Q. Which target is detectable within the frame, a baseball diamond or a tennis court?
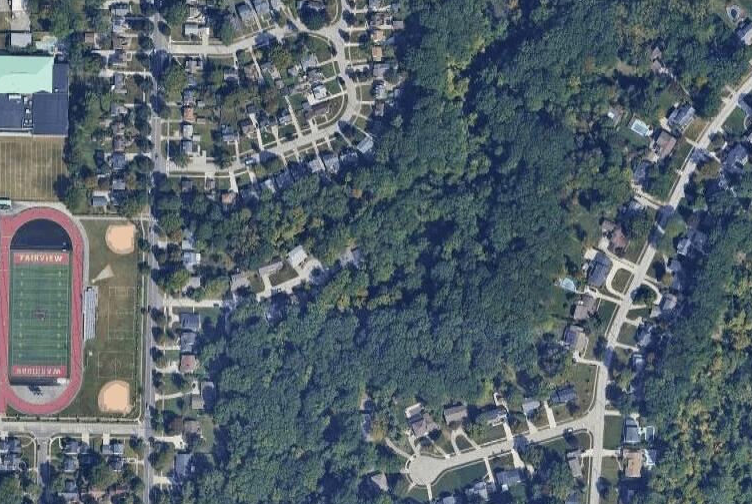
baseball diamond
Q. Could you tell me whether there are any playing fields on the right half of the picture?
No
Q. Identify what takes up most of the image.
trees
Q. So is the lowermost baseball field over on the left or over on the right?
left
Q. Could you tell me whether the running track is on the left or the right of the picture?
left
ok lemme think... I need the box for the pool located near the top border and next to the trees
[728,5,740,21]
